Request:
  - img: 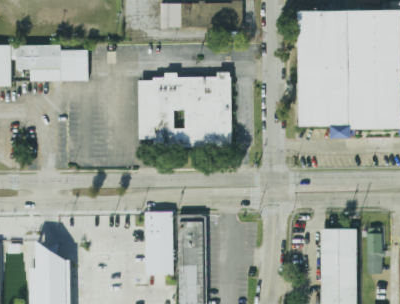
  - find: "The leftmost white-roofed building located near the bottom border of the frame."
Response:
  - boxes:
[29,242,72,304]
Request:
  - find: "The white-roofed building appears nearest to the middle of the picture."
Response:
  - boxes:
[138,72,233,145]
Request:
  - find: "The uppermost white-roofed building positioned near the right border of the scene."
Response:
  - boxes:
[298,11,400,129]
